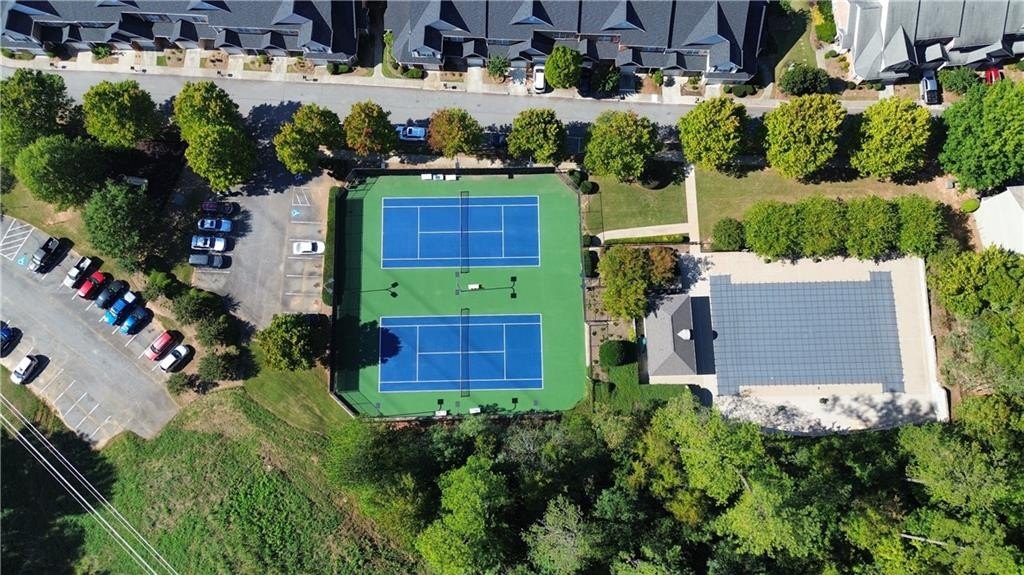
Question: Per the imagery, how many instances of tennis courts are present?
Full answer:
The count of tennis courts comes to 2.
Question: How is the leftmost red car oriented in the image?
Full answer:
What the image shows is the leftmost red car lying diagonally.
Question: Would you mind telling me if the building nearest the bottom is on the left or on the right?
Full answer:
The building nearest the bottom appears in the right half of the scene.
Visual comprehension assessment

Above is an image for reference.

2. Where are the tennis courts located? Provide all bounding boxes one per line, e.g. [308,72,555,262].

[341,174,584,291]
[338,291,589,418]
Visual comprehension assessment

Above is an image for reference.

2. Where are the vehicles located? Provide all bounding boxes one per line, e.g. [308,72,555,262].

[104,290,138,326]
[0,323,18,352]
[188,253,224,270]
[77,271,107,299]
[191,235,228,251]
[160,343,192,372]
[921,68,940,105]
[482,131,512,148]
[145,328,176,362]
[27,237,61,273]
[96,279,125,309]
[197,218,233,233]
[121,305,150,337]
[10,352,38,385]
[293,240,323,256]
[61,255,95,291]
[532,64,546,94]
[396,124,428,141]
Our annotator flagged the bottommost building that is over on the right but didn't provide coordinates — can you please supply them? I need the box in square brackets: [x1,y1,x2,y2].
[644,294,697,376]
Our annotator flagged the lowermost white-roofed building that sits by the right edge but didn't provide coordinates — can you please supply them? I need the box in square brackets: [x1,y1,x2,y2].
[964,184,1024,258]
